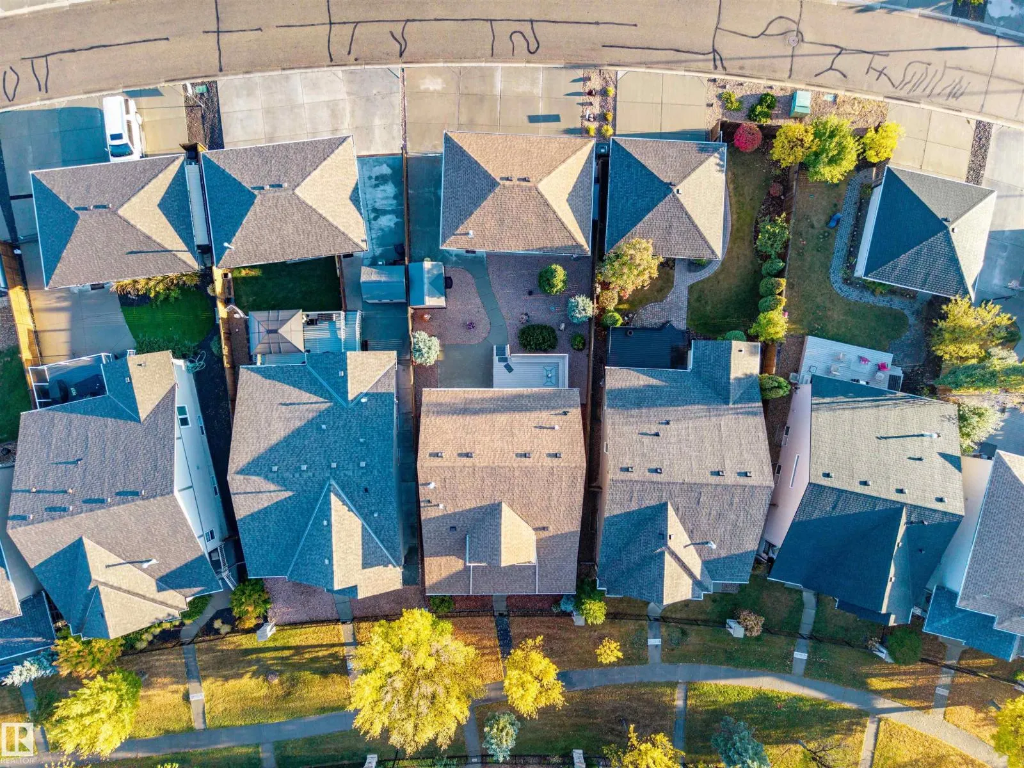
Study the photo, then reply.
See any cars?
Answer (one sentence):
Yes, there's a car here.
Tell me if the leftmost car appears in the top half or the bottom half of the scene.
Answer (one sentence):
The leftmost car sits in the top half of the picture.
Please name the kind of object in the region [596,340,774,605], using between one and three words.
house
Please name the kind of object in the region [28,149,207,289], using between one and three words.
building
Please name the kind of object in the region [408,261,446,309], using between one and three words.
shed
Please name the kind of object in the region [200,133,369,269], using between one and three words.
building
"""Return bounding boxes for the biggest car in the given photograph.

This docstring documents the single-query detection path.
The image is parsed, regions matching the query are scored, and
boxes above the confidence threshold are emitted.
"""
[106,95,152,159]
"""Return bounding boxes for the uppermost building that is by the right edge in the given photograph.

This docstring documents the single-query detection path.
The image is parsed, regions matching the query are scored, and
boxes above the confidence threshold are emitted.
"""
[852,165,998,302]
